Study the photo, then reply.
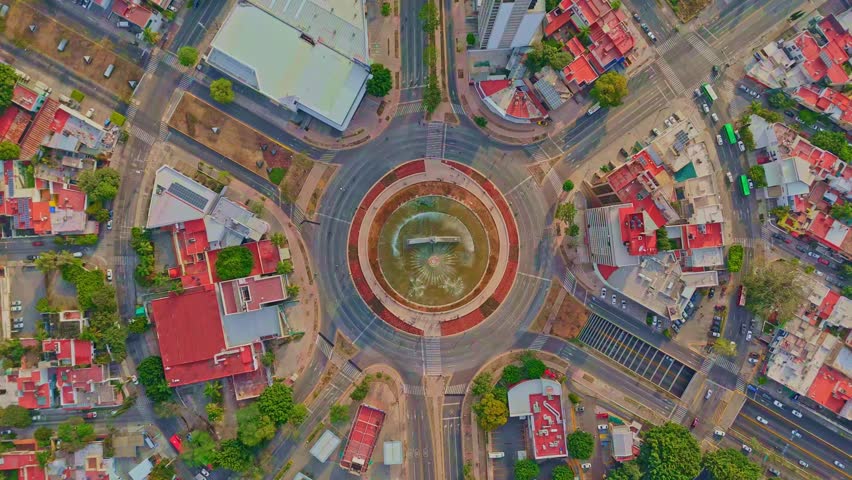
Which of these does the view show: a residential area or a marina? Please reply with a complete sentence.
What you see here is a residential area.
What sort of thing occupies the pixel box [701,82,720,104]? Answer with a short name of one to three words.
vehicle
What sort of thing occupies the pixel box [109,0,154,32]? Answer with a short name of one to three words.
house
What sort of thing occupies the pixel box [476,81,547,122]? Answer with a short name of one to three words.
building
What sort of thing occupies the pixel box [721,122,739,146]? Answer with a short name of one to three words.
vehicle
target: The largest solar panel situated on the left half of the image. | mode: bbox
[170,184,207,210]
